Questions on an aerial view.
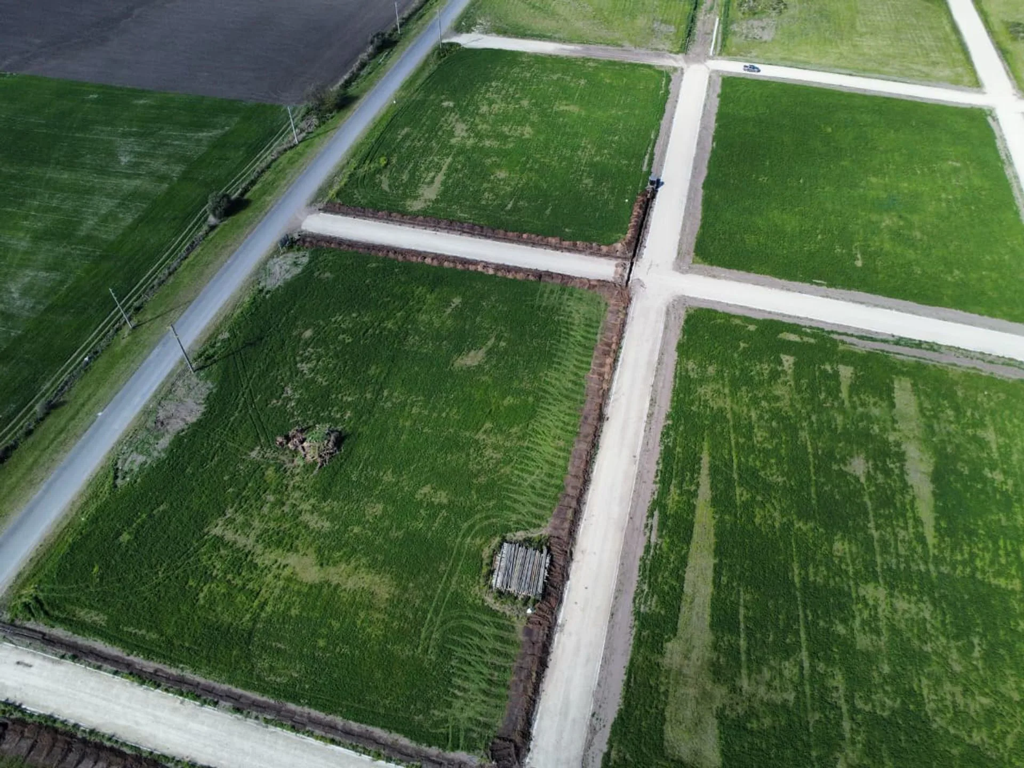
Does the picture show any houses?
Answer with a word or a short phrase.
No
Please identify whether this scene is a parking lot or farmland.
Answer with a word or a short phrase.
farmland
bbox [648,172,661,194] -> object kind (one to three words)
vehicle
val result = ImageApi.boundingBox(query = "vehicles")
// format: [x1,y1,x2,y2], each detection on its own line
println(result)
[648,172,661,194]
[742,63,762,72]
